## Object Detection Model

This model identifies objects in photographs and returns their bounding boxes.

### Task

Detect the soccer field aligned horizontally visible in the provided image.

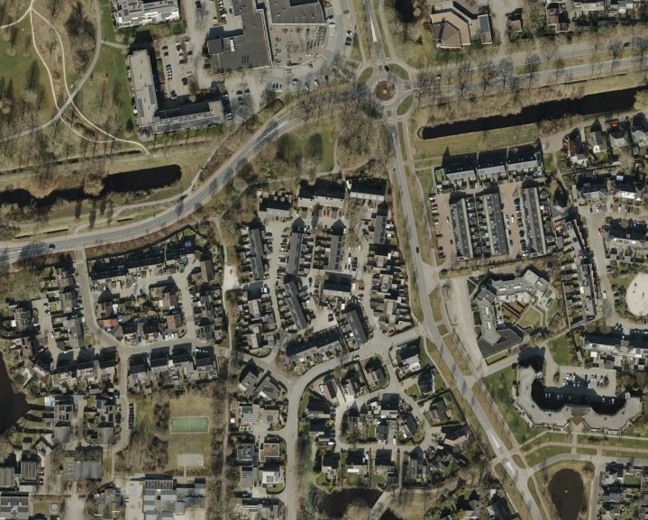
[170,417,210,433]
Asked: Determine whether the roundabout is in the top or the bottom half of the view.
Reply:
top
